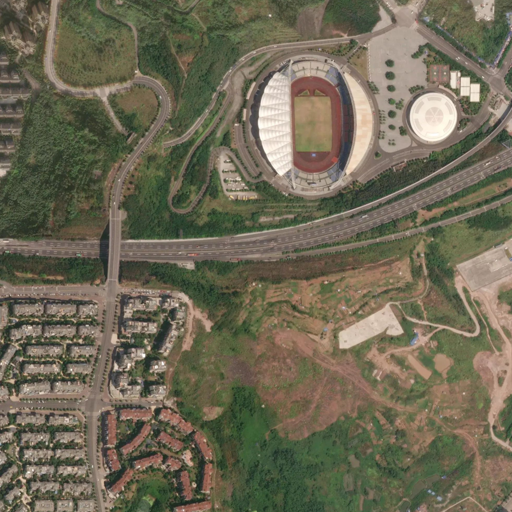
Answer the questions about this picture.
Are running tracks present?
Yes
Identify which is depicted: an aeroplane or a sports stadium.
sports stadium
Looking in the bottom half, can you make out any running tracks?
No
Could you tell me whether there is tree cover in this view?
Yes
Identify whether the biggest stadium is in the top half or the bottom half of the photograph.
top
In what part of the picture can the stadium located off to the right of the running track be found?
top right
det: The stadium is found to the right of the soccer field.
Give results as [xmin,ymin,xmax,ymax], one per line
[400,83,466,150]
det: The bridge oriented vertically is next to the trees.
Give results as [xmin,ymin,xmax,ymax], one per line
[109,208,121,276]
